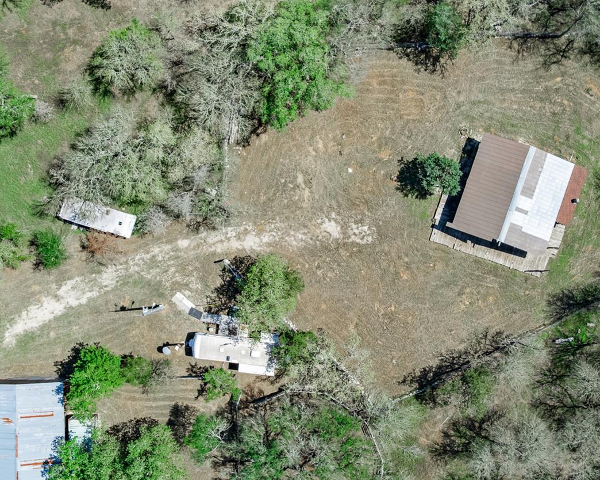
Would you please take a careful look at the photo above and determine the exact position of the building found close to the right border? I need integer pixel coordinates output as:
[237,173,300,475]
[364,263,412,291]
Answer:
[446,135,587,256]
